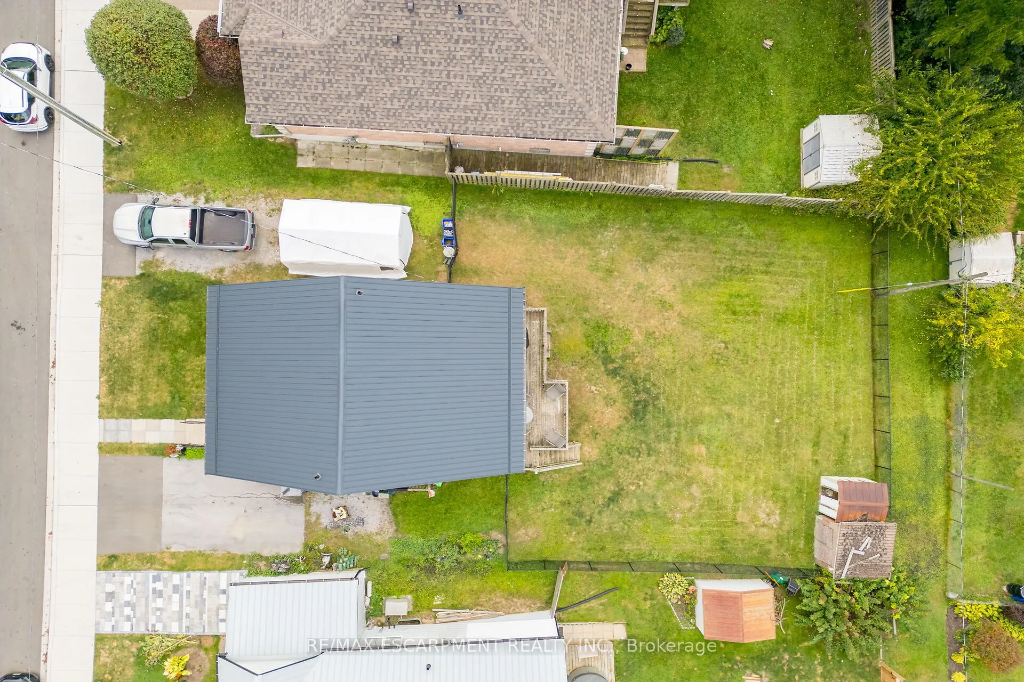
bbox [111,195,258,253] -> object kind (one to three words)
truck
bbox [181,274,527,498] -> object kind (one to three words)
house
